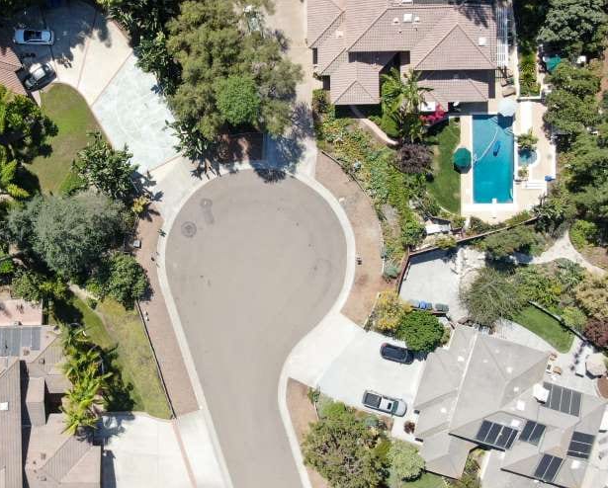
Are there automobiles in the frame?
Yes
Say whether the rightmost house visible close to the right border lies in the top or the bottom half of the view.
bottom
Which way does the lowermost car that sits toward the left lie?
diagonally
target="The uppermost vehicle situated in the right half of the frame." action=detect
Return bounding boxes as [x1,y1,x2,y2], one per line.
[379,343,415,364]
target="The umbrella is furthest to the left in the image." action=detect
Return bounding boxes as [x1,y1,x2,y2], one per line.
[452,150,470,168]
